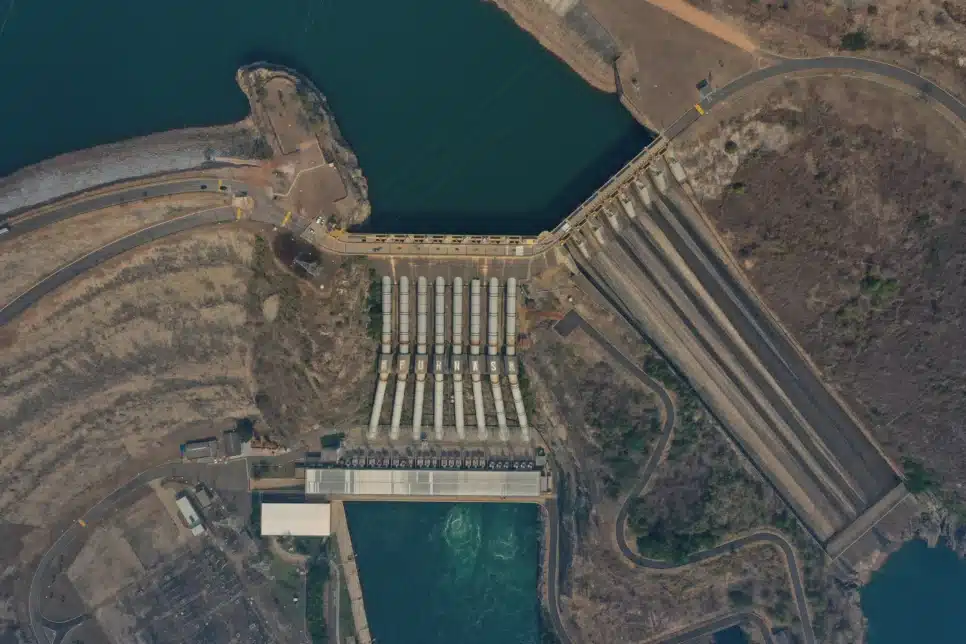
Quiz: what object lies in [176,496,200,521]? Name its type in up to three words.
building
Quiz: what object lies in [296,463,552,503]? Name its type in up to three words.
building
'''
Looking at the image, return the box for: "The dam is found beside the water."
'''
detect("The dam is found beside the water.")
[295,222,571,288]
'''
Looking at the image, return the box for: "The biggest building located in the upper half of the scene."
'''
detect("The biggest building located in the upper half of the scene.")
[232,195,254,211]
